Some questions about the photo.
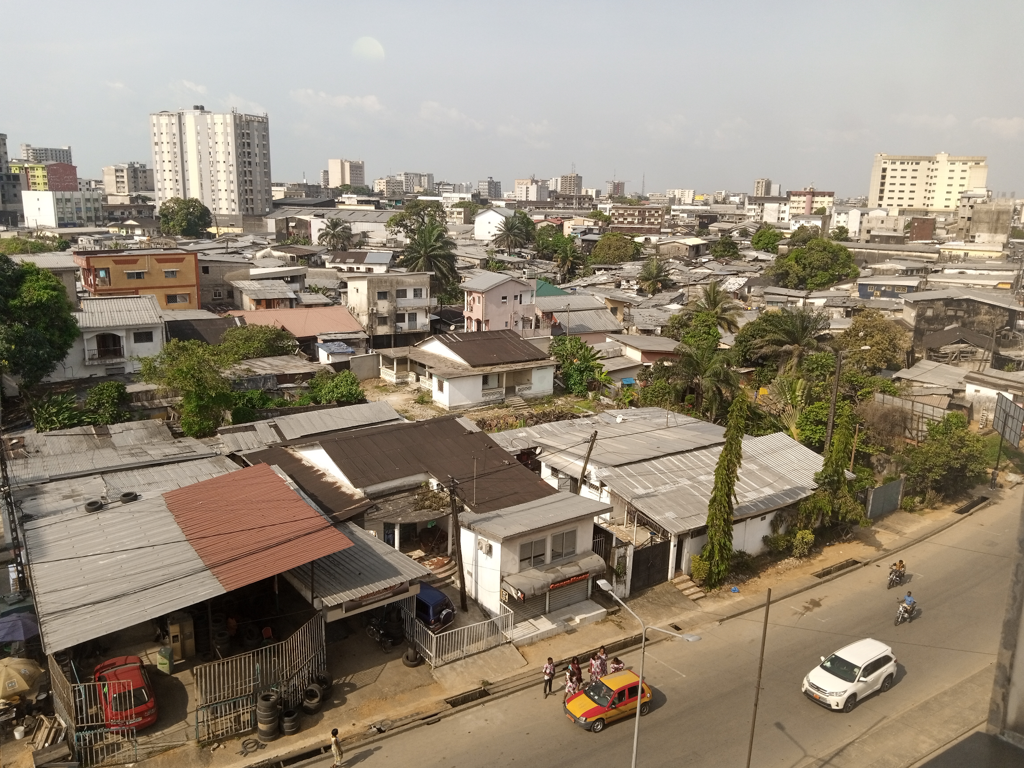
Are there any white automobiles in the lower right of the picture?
Yes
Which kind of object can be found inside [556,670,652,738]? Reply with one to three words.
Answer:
car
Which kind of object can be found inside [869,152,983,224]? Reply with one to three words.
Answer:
building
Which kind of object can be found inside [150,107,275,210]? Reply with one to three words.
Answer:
building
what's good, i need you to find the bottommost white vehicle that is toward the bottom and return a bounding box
[798,637,905,714]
